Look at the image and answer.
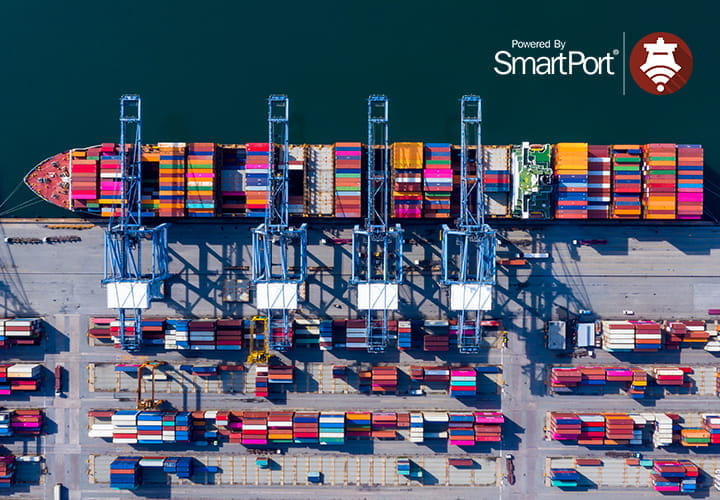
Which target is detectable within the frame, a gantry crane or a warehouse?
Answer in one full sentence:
Looking from above, you can make out a gantry crane.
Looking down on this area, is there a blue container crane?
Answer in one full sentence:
Yes, there is a blue container crane in the image.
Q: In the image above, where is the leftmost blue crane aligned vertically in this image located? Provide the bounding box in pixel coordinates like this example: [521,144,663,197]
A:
[102,93,182,353]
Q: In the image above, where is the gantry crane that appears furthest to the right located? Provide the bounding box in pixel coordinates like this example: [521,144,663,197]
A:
[430,93,497,353]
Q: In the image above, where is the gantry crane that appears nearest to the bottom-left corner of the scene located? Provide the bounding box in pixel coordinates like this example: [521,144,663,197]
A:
[136,357,168,409]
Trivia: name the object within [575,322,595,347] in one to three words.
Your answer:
shed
